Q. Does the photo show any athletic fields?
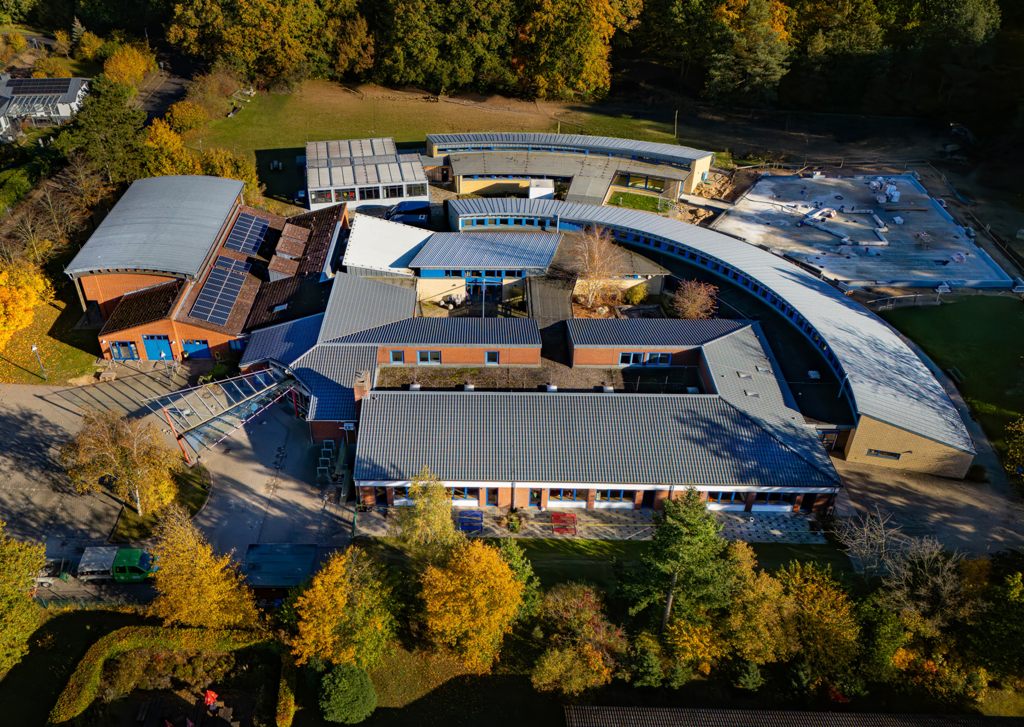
Yes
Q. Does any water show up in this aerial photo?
No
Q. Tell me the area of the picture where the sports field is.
top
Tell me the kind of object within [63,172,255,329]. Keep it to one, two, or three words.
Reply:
building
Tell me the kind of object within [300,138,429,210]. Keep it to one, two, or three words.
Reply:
building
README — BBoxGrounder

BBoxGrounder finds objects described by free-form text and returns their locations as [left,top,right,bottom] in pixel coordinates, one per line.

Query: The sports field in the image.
[190,79,943,221]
